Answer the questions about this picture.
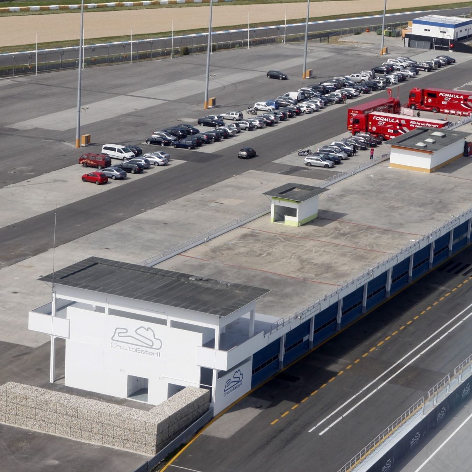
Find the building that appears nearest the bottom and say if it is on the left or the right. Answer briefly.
left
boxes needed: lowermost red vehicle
[79,172,111,186]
